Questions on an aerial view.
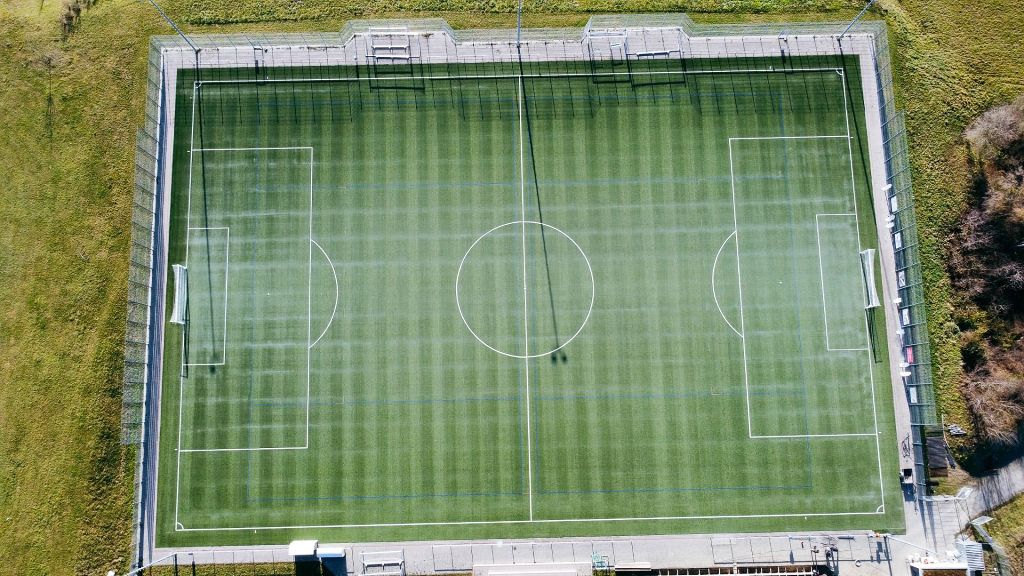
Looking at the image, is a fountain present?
No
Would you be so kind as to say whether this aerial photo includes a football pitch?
Yes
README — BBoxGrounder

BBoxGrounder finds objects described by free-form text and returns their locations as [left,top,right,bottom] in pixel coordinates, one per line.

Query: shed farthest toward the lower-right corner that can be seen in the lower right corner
[956,541,987,573]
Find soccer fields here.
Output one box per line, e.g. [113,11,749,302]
[155,55,905,548]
